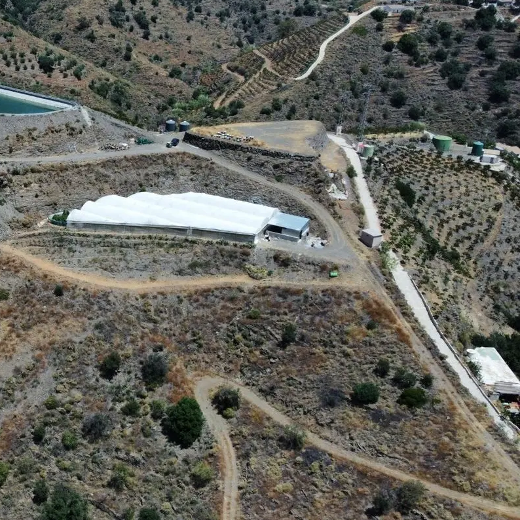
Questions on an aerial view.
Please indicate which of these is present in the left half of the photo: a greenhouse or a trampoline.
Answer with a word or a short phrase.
greenhouse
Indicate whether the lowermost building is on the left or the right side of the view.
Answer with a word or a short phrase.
right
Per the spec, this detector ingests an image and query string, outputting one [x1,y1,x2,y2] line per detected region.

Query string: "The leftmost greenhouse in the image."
[67,190,279,245]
